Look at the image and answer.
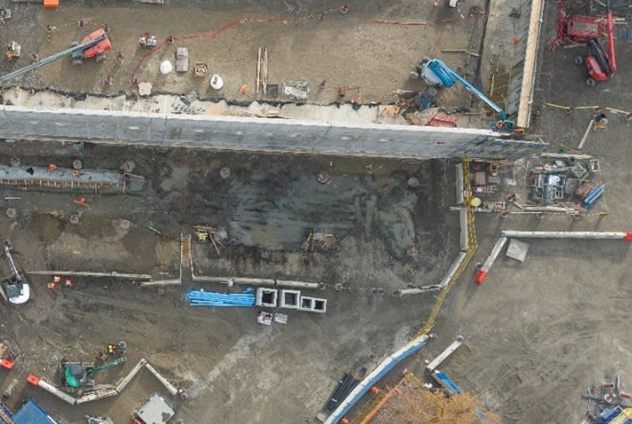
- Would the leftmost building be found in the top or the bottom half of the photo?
bottom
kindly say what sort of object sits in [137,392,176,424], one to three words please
building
